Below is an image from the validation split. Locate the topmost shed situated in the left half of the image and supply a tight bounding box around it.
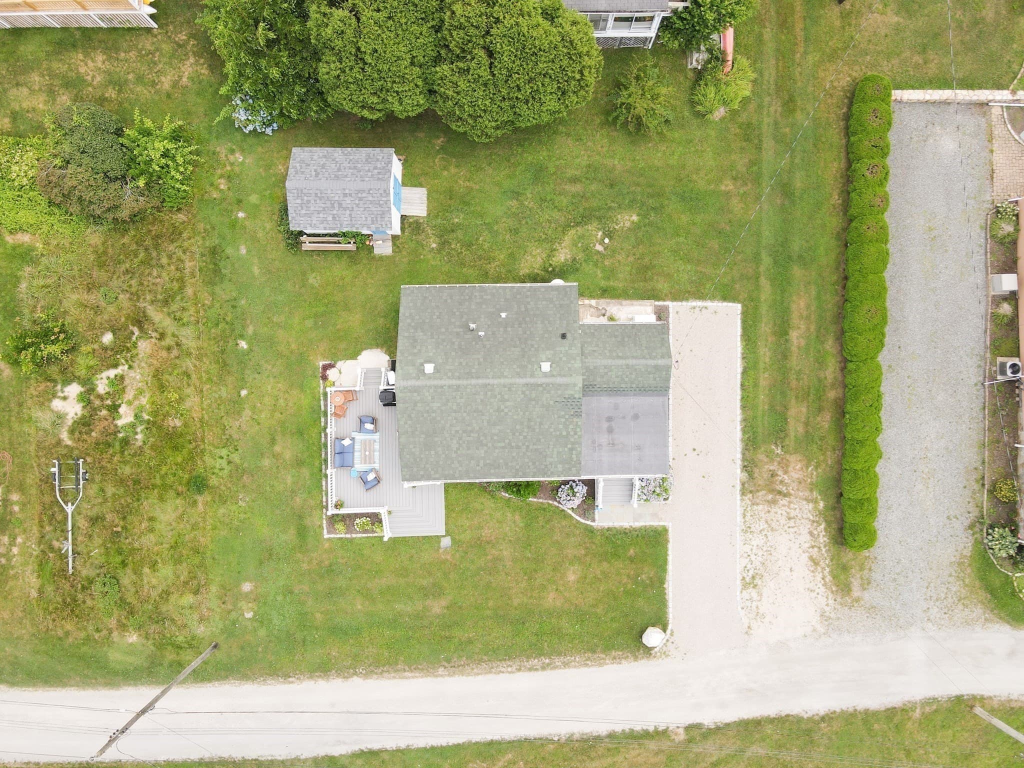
[284,148,401,235]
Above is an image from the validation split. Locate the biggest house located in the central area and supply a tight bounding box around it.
[395,281,679,485]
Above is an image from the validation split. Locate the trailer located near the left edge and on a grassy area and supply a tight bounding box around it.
[49,458,90,574]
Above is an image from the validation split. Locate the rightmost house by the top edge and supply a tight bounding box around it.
[587,0,676,50]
